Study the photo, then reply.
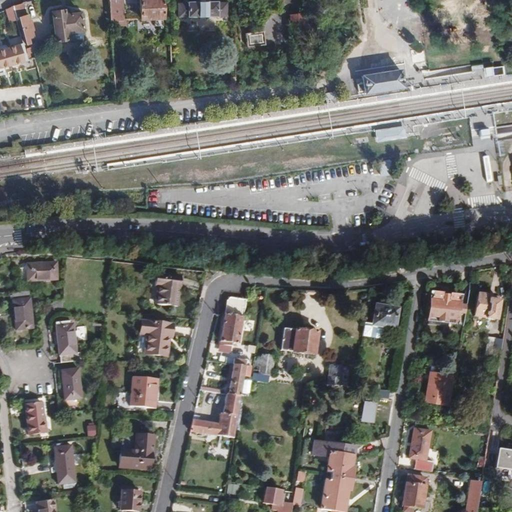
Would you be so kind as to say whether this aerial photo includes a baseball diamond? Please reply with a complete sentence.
No, no baseball diamond is visible in the scene.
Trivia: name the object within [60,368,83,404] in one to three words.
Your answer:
house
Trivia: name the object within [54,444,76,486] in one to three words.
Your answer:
house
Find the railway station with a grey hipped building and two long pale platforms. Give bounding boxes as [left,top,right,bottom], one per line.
[24,68,512,170]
